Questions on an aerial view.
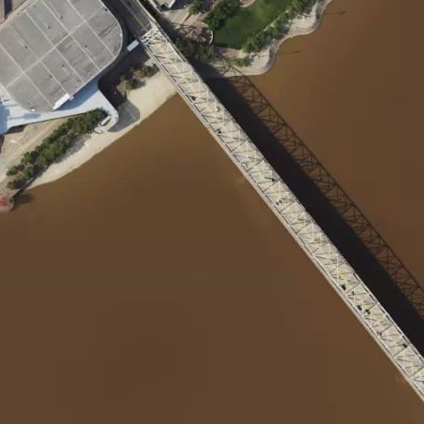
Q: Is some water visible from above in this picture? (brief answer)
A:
Yes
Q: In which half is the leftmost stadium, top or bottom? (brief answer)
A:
top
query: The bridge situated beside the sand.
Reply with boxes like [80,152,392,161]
[135,22,424,400]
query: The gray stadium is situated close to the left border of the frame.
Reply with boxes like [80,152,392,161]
[0,0,124,134]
